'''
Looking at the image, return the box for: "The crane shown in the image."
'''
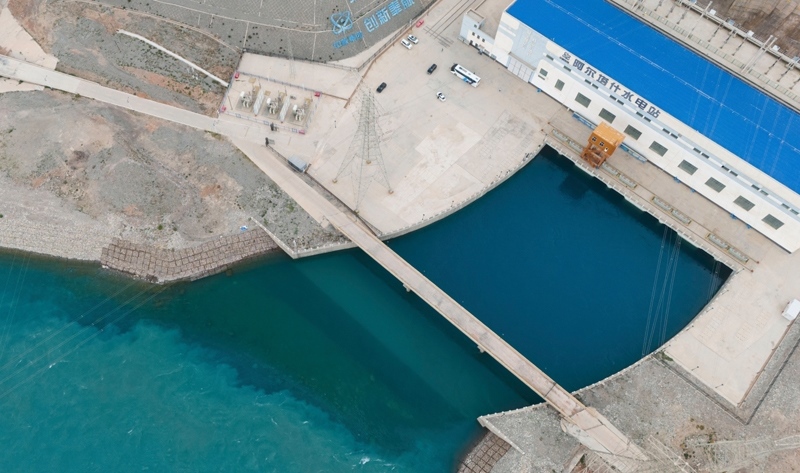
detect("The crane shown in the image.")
[578,121,626,171]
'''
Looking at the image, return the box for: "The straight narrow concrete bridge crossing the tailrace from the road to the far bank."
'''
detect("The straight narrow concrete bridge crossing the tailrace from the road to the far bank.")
[332,213,590,425]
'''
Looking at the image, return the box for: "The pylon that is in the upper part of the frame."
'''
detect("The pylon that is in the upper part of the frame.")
[330,85,395,213]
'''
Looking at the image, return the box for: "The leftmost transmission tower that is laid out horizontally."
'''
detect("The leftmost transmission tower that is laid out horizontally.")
[578,428,701,473]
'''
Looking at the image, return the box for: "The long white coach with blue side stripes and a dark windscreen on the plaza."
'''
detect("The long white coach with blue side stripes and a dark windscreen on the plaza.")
[450,62,484,87]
